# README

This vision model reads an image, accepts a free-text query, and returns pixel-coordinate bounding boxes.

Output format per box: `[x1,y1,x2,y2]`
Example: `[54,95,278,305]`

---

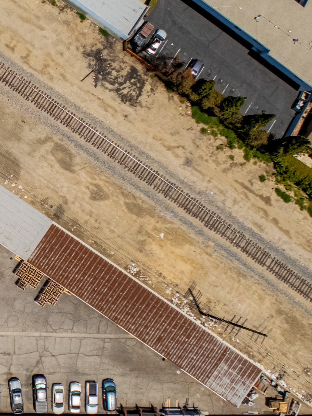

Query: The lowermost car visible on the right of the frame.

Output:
[186,52,209,82]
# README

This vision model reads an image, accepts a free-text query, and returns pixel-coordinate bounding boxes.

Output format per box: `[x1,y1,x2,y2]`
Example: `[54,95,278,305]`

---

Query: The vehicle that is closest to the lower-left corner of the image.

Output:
[9,378,24,414]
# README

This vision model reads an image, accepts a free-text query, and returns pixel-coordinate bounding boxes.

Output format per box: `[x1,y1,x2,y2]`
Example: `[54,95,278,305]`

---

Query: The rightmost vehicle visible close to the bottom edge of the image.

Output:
[101,378,117,412]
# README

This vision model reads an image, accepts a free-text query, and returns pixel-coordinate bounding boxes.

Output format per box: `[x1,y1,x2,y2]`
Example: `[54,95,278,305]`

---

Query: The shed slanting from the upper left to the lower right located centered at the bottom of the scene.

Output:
[27,223,263,408]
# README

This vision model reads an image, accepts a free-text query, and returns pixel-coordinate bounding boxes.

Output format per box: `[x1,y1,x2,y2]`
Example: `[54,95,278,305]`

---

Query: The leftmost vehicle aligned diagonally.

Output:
[131,17,157,50]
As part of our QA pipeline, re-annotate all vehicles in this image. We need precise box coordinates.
[69,381,83,413]
[85,379,100,414]
[131,17,157,50]
[101,378,117,412]
[51,382,65,414]
[186,52,209,82]
[33,373,48,414]
[9,378,24,414]
[144,27,169,57]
